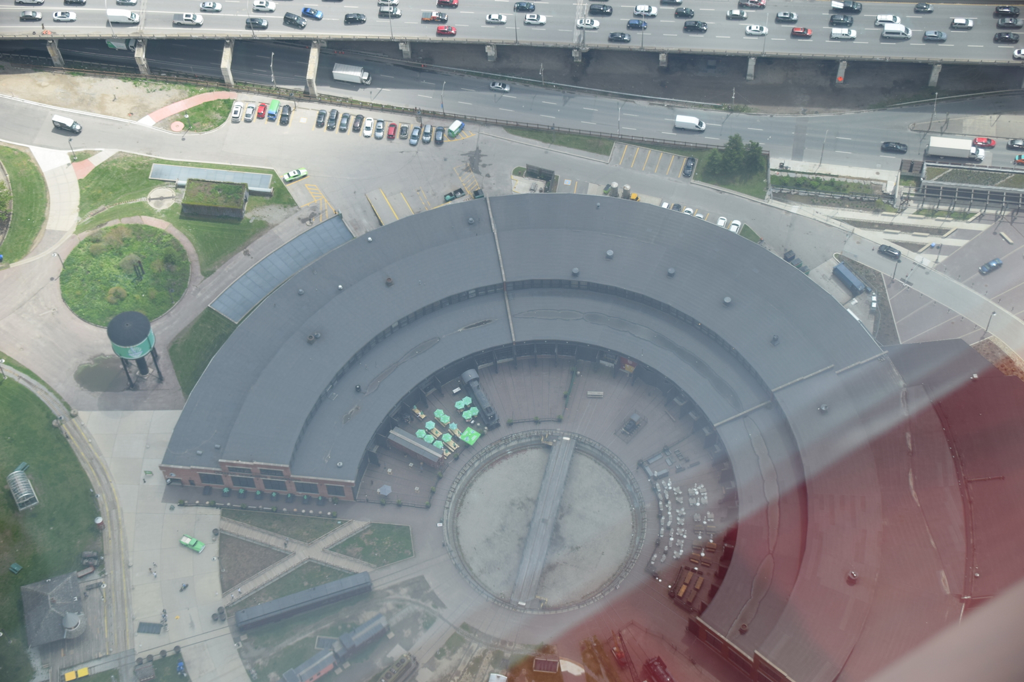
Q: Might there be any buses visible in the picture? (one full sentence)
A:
Yes, the image includes a bus.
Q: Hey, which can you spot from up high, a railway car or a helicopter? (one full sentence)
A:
I can see a railway car in this picture.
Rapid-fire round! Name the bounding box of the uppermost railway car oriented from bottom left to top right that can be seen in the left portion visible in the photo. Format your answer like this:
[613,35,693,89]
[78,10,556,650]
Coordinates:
[341,607,399,656]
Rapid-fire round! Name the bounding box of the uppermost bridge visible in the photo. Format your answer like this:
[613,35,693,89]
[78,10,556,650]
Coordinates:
[0,0,1024,98]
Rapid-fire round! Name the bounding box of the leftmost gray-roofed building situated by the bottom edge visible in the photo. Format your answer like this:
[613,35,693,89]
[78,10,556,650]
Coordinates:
[21,571,87,649]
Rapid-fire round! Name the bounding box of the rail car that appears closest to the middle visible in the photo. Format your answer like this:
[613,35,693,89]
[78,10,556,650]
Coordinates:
[460,367,502,434]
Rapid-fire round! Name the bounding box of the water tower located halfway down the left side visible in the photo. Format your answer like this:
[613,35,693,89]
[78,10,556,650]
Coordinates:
[108,315,164,390]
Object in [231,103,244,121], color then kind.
white vehicle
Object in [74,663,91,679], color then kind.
yellow rail car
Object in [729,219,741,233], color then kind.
white vehicle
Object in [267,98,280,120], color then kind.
green vehicle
